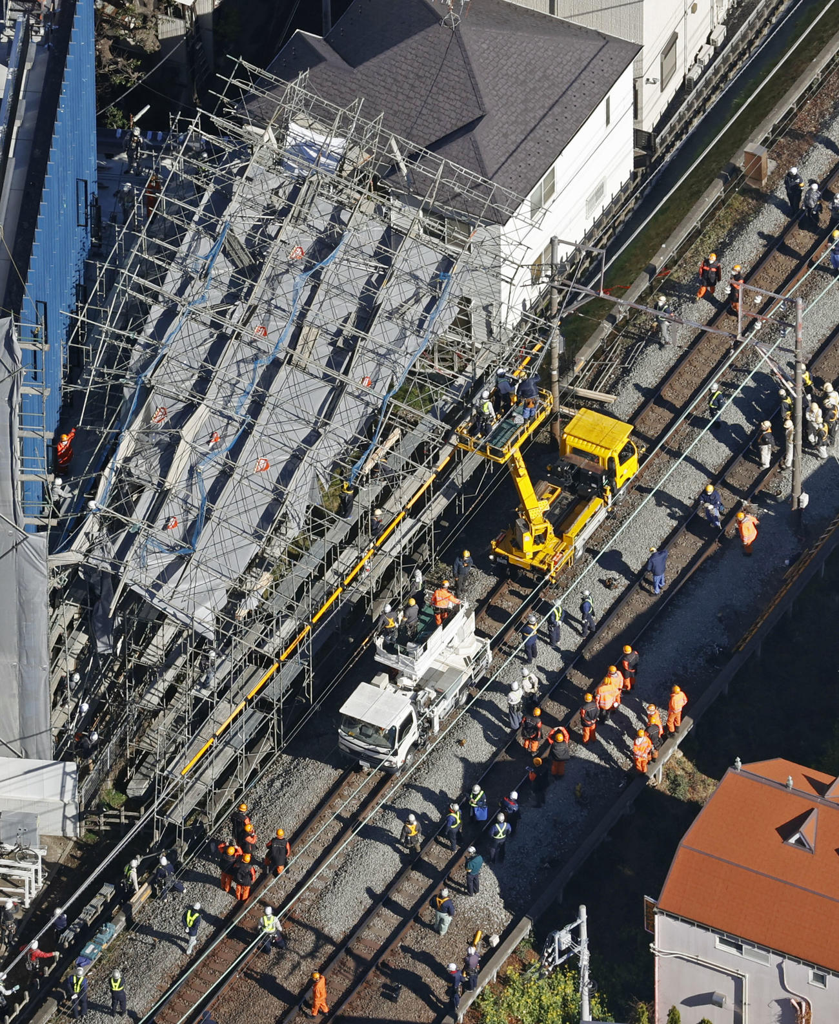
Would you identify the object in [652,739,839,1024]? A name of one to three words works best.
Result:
house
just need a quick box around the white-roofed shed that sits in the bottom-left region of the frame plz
[0,748,72,837]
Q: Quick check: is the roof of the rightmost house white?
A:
No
